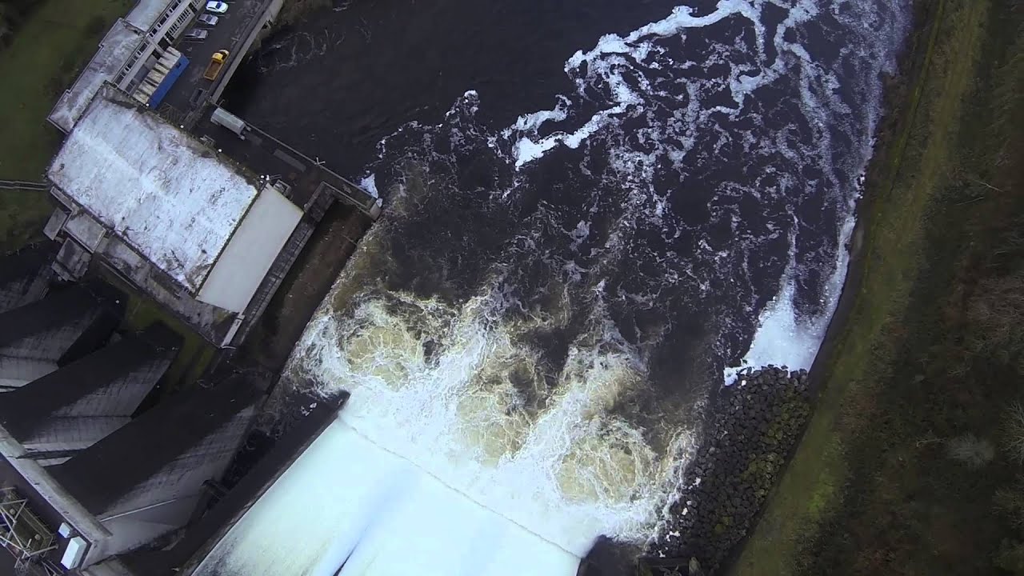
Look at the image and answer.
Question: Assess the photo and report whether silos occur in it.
No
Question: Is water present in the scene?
Yes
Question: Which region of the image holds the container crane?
bottom left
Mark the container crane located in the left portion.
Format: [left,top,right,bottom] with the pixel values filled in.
[0,486,59,562]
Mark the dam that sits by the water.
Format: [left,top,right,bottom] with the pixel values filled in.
[0,221,276,576]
